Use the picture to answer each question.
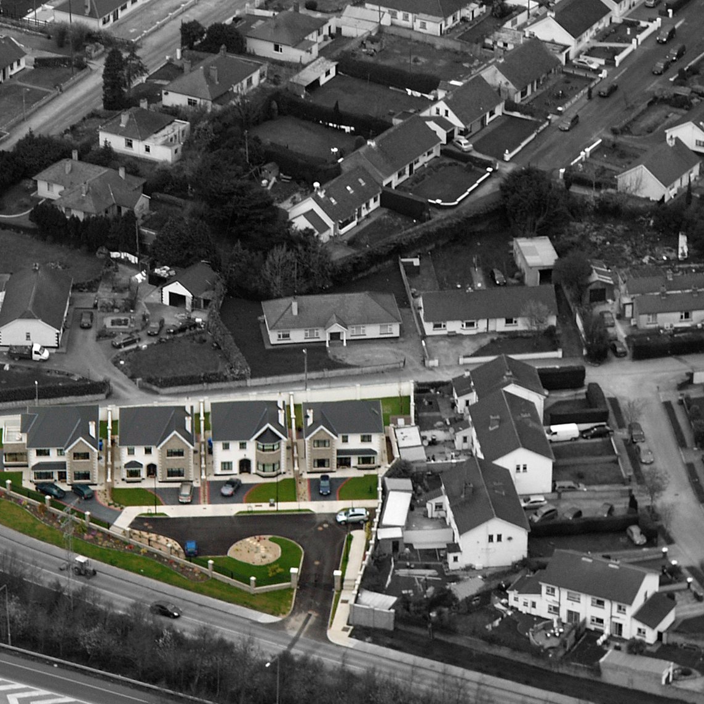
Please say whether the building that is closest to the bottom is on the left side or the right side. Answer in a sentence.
You can find the building that is closest to the bottom on the right side of the picture.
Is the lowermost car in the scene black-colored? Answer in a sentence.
Yes, black is the color of the lowermost car.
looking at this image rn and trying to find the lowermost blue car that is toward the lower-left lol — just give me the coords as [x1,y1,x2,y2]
[184,541,198,559]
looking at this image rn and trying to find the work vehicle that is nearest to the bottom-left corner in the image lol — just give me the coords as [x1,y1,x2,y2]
[54,550,104,579]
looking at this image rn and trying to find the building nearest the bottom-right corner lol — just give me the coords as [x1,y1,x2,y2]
[599,651,668,692]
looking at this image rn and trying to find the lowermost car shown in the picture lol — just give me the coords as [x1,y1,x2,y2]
[149,600,183,621]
